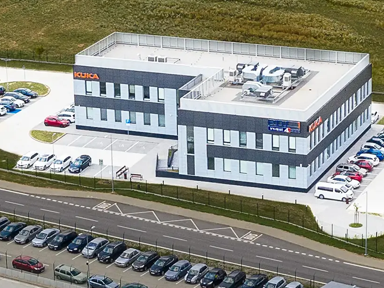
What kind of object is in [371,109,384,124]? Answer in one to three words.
vehicle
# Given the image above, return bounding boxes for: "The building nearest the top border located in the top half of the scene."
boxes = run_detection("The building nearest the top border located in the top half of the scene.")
[73,32,372,191]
